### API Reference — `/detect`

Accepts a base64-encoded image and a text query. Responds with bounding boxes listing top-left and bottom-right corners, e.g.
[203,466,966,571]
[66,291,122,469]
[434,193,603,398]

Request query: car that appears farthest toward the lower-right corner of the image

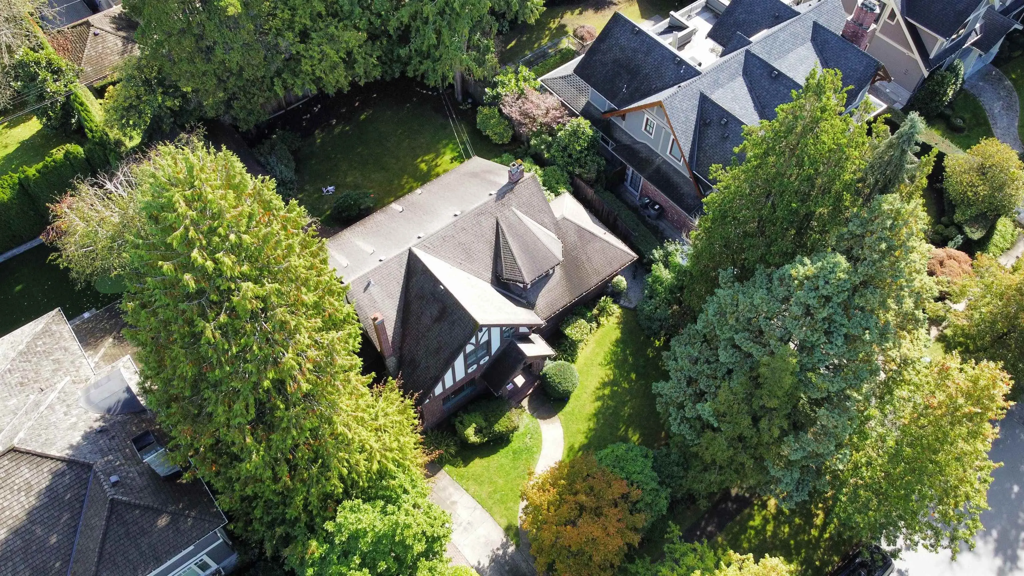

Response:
[830,539,899,576]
